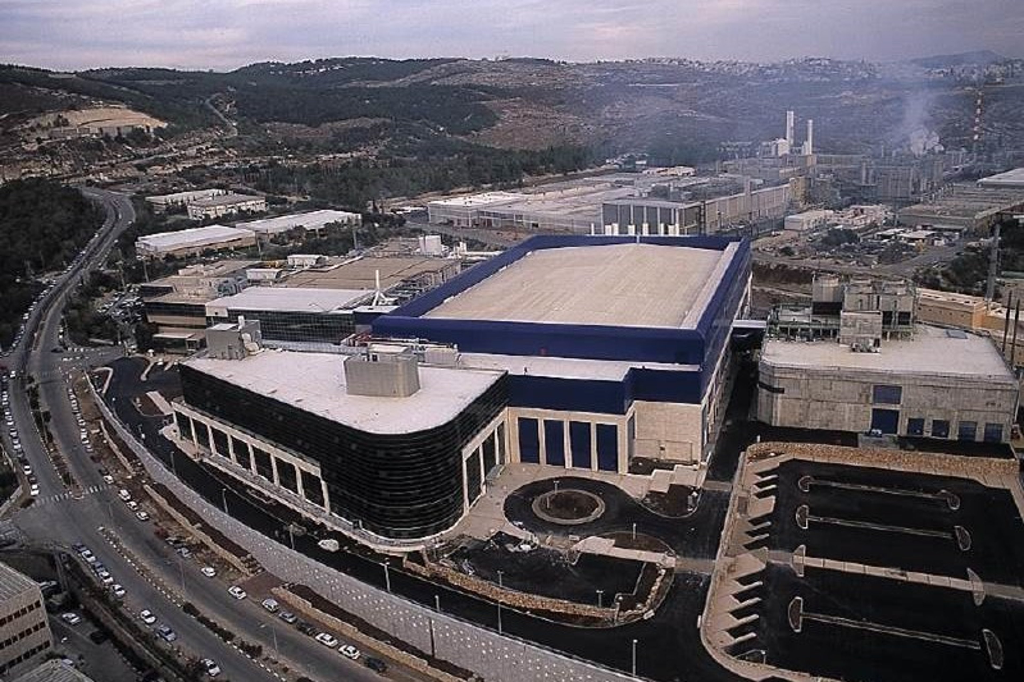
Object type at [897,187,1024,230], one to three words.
building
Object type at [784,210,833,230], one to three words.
building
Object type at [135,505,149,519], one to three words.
car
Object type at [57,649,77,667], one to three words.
car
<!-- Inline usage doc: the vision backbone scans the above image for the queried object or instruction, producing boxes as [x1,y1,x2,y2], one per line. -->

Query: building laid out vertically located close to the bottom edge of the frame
[0,562,55,679]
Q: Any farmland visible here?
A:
No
